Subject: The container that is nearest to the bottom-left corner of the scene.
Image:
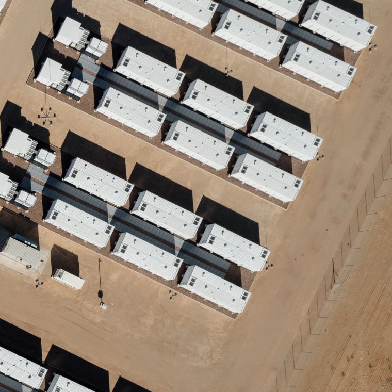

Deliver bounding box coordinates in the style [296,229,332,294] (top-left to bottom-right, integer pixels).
[0,349,46,390]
